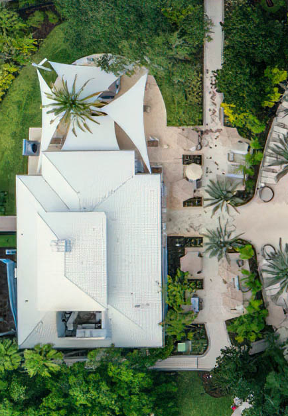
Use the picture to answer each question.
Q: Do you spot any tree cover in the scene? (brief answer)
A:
Yes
